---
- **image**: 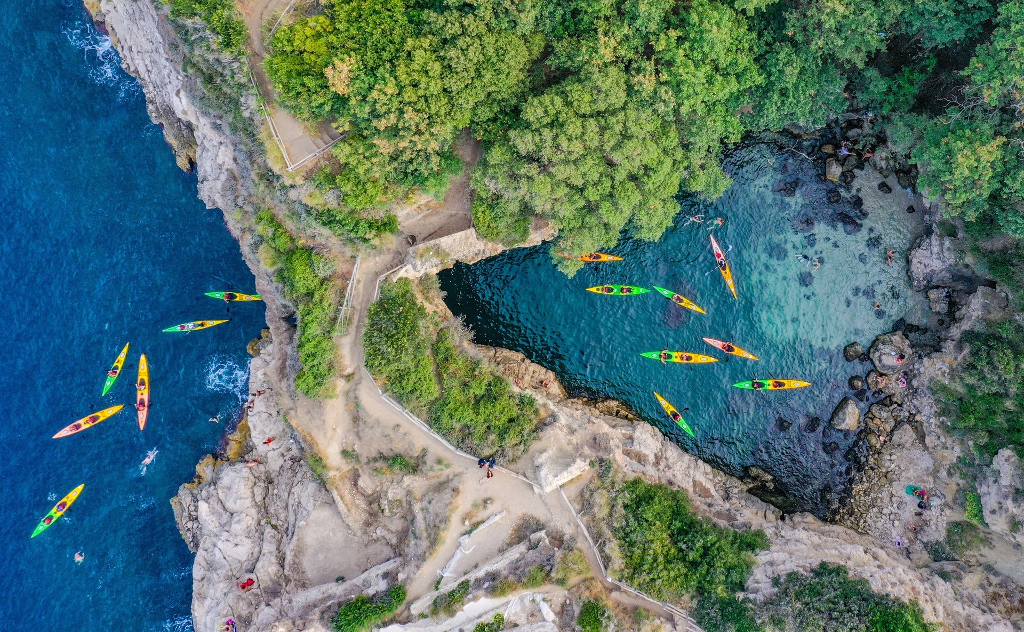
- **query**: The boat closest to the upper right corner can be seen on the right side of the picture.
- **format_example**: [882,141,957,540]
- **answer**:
[711,236,738,299]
